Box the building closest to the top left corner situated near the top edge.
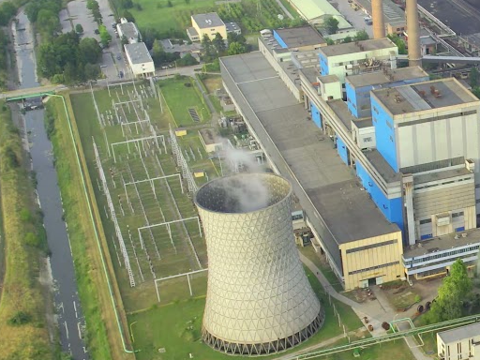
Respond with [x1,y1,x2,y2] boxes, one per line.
[101,18,138,42]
